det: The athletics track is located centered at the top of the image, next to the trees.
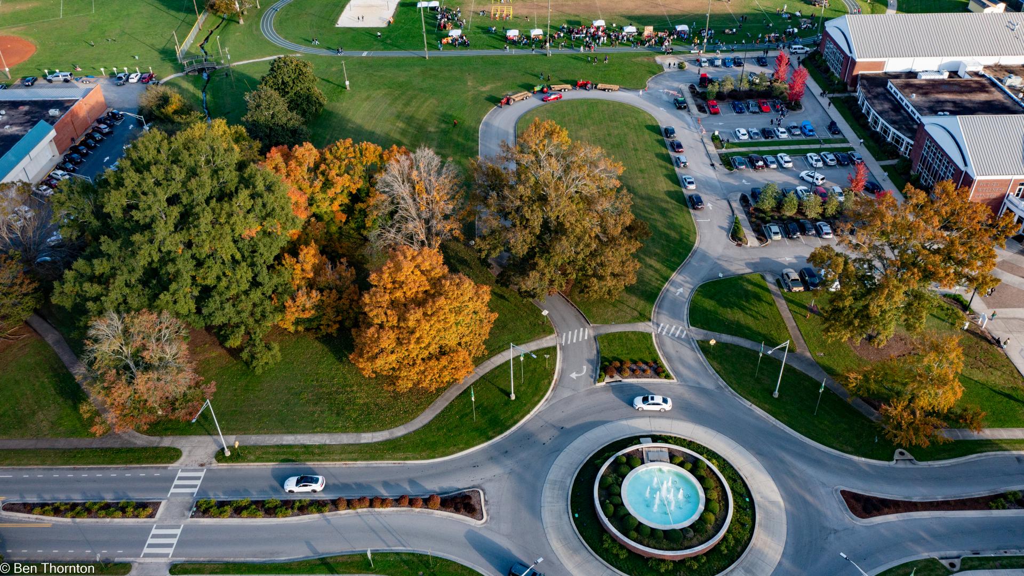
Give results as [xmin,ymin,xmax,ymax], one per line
[261,0,861,56]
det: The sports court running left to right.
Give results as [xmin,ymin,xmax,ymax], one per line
[336,0,400,27]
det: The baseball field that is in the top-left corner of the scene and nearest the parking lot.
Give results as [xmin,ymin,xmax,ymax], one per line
[0,36,35,68]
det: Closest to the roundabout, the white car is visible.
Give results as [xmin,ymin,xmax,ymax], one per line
[632,395,673,413]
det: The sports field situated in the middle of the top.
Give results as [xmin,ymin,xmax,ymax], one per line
[427,0,776,32]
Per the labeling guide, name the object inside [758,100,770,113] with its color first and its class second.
red vehicle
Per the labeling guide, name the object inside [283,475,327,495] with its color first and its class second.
white car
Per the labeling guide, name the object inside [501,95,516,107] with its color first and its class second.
red vehicle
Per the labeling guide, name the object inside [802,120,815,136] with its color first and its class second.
blue vehicle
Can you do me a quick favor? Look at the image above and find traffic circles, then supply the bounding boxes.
[541,417,789,576]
